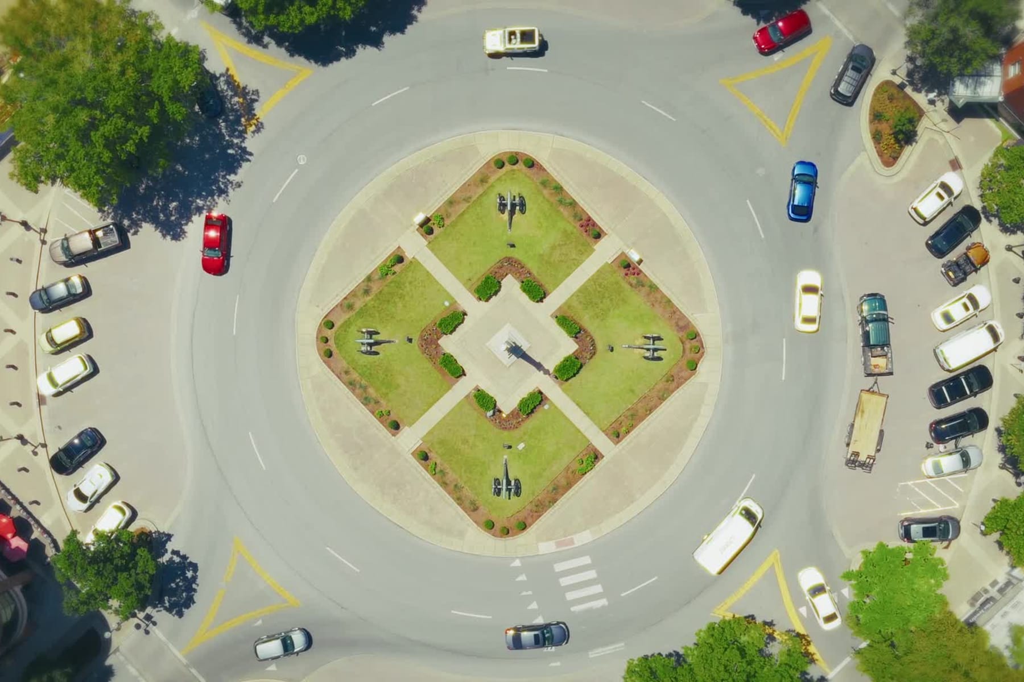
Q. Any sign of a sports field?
No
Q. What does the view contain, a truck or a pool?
truck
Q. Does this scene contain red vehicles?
Yes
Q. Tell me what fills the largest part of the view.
paved ground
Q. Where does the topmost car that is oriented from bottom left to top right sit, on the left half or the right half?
right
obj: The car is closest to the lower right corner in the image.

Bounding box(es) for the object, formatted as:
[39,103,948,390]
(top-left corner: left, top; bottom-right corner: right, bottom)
[897,515,959,545]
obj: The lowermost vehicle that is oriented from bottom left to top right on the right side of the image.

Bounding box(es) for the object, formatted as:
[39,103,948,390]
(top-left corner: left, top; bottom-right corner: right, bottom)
[692,492,768,585]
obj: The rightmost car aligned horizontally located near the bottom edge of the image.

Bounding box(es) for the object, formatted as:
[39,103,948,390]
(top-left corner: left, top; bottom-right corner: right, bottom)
[506,620,569,651]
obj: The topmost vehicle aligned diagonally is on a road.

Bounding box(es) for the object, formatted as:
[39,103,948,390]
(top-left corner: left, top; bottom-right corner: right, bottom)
[752,6,815,57]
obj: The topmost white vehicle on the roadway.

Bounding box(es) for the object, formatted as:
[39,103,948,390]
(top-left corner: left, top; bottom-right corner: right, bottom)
[484,25,545,58]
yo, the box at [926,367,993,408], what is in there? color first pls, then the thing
black car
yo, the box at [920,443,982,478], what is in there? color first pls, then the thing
white car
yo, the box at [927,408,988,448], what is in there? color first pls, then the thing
black car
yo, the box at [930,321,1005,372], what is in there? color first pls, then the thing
white van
